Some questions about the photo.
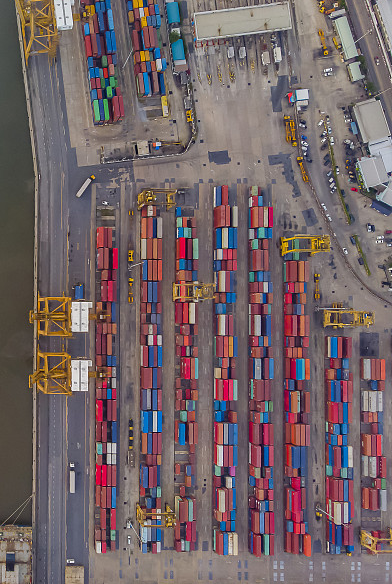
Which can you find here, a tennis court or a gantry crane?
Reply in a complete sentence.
Looking from above, you can make out a gantry crane.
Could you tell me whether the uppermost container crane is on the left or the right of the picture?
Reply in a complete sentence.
You can find the uppermost container crane on the left side of the picture.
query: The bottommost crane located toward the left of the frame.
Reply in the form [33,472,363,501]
[130,495,177,522]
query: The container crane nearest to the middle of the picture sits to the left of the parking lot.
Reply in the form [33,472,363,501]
[166,283,215,300]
